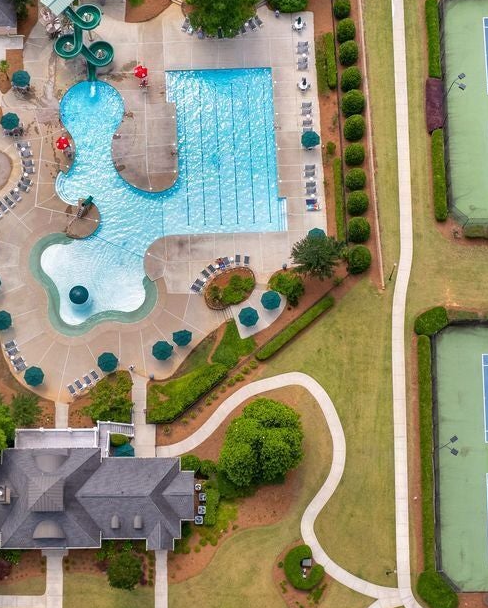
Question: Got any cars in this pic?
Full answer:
No, I find no car anywhere in the image.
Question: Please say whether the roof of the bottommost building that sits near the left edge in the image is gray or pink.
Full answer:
The color of the roof of the bottommost building that sits near the left edge is gray.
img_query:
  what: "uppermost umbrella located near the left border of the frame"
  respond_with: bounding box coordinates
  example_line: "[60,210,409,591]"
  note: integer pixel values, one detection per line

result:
[12,68,32,87]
